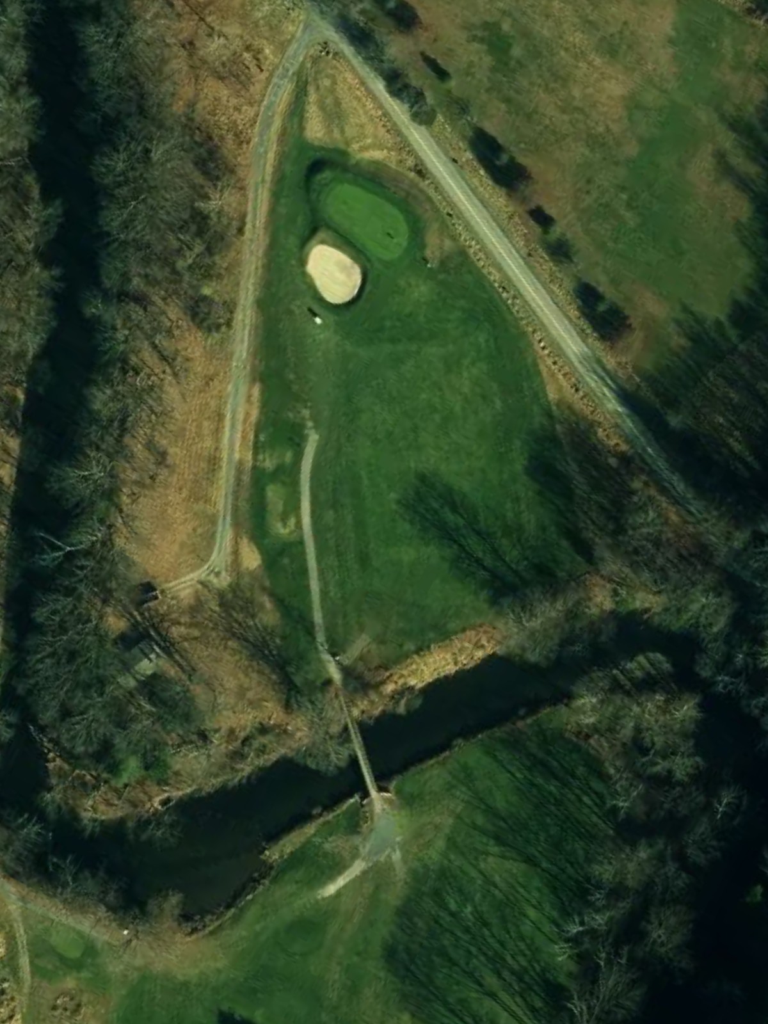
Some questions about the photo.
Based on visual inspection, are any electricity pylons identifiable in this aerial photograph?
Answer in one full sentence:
No, there is no electricity pylon in the image.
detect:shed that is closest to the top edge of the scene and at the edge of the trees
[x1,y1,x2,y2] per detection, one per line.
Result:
[133,581,160,607]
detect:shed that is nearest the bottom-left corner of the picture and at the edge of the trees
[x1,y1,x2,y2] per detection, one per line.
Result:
[110,646,160,692]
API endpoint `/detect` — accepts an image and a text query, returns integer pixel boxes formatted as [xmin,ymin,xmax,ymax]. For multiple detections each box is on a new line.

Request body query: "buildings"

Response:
[133,581,160,607]
[110,646,160,692]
